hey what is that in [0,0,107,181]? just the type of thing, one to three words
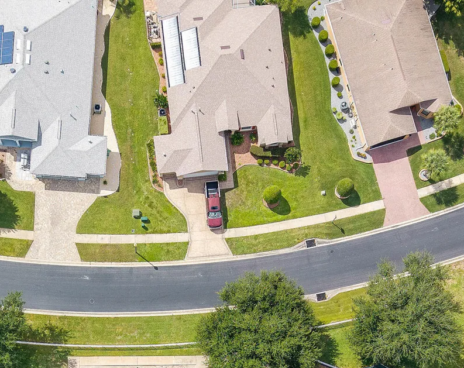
house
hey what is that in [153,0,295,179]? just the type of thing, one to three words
house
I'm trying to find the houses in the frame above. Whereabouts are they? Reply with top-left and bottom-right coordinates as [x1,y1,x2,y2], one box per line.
[322,0,451,153]
[0,0,107,181]
[153,0,295,179]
